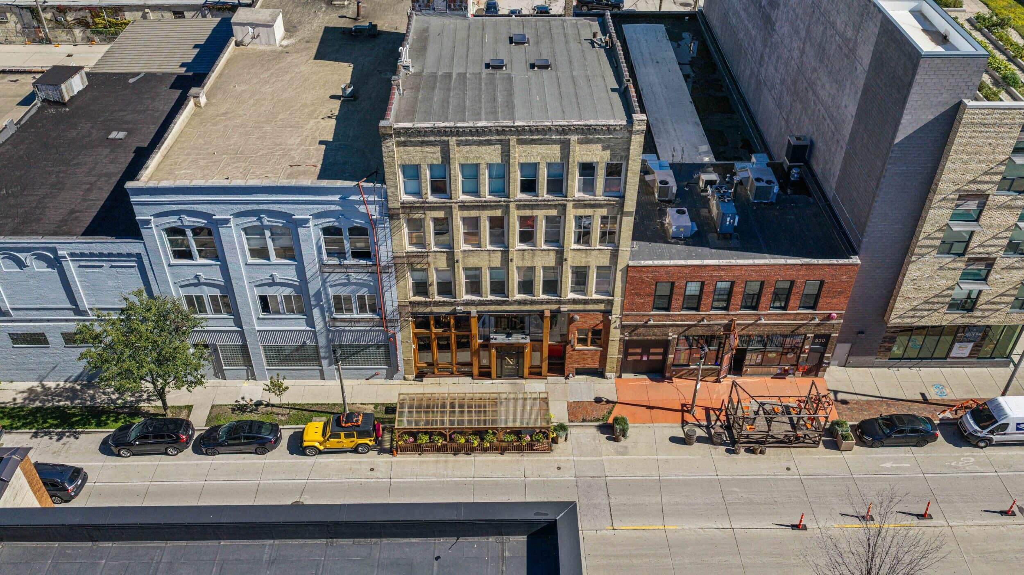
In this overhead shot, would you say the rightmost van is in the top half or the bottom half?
bottom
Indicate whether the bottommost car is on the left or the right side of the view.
left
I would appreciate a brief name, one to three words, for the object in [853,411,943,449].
car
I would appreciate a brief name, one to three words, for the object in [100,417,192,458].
car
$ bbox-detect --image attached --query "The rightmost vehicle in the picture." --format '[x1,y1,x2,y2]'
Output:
[953,394,1024,449]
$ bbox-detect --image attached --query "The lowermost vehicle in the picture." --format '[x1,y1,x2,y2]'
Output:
[27,464,91,507]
